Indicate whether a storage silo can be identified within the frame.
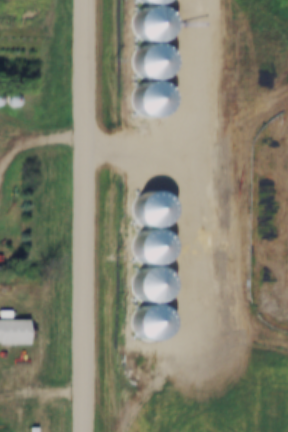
Yes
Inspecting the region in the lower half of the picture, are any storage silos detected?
Yes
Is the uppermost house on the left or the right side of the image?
left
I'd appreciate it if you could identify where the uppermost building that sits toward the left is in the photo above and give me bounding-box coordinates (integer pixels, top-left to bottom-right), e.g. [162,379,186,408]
[0,310,36,347]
